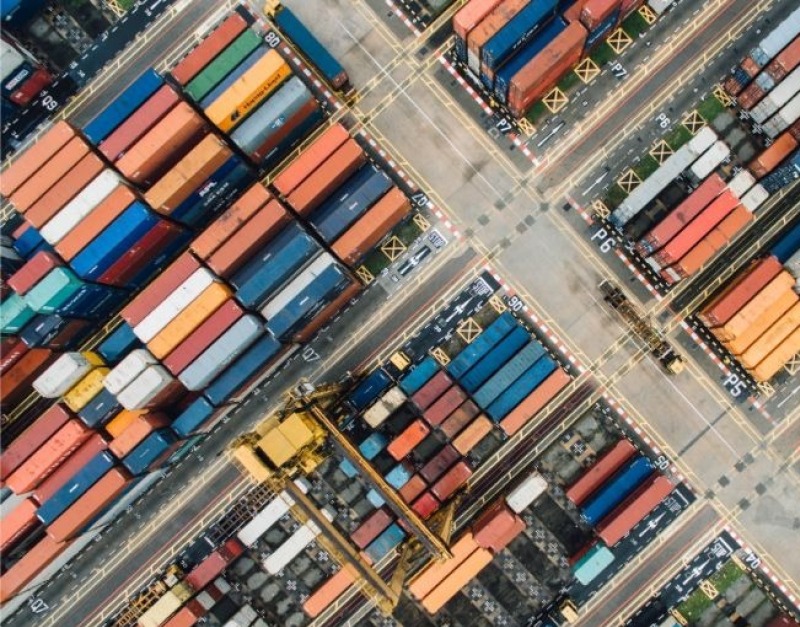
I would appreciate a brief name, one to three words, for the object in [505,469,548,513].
shipping container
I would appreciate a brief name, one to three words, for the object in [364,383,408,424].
shipping container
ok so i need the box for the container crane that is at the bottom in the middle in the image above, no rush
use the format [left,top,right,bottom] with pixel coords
[235,377,463,614]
